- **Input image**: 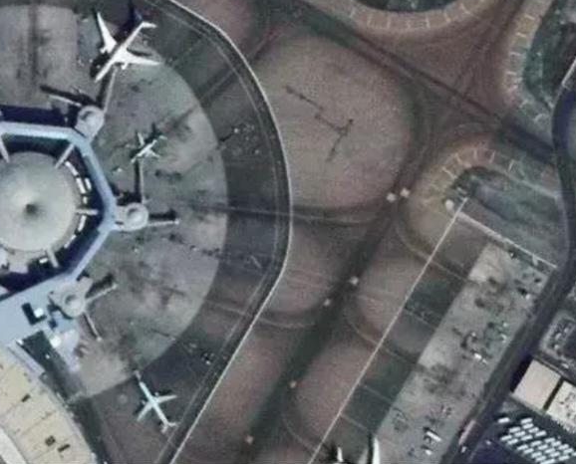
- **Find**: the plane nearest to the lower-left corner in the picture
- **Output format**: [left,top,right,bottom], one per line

[137,382,176,429]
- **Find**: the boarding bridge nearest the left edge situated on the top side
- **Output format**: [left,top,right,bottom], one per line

[47,95,82,109]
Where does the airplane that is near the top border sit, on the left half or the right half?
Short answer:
left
